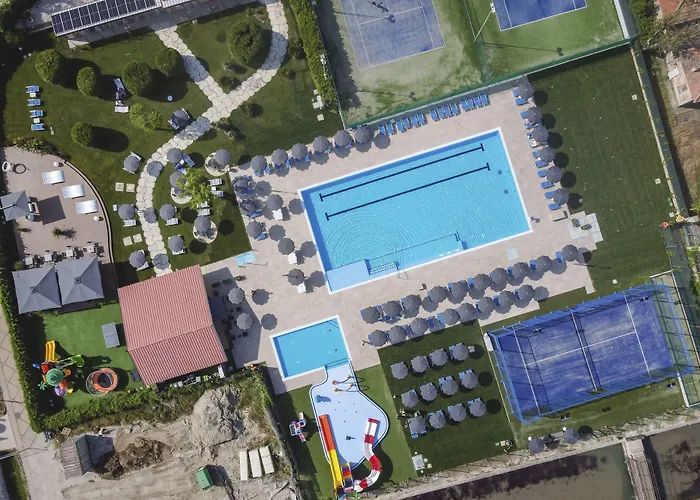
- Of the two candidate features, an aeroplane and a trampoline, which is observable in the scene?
trampoline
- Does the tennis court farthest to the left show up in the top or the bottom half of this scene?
top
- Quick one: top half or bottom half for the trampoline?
bottom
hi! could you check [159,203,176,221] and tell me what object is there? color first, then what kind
gray umbrella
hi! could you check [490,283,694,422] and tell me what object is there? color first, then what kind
blue sports court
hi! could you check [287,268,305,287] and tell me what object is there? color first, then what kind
gray umbrella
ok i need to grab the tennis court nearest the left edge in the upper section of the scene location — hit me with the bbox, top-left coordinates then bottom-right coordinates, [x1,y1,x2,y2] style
[339,0,445,69]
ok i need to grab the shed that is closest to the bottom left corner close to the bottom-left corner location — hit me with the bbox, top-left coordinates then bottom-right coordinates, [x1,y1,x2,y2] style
[56,436,93,482]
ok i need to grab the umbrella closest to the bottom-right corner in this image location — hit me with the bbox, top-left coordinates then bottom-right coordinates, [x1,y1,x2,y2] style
[562,427,580,446]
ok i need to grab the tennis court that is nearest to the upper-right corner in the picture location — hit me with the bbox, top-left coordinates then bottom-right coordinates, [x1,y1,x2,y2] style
[494,0,587,31]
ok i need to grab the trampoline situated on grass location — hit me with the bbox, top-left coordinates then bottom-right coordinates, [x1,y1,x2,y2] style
[86,366,120,397]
